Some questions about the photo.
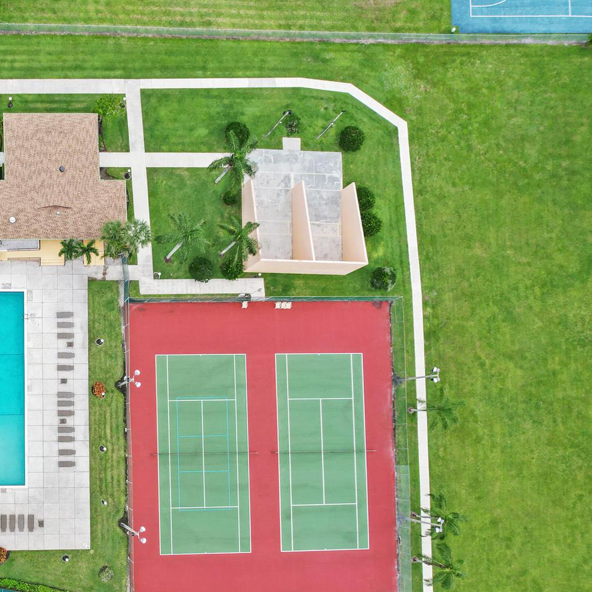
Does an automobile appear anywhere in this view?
No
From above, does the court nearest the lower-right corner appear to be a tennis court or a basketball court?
tennis court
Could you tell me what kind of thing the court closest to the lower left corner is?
tennis court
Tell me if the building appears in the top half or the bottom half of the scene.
top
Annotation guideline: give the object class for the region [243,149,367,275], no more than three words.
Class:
sports court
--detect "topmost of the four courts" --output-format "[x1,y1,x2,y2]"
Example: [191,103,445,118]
[452,0,592,34]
